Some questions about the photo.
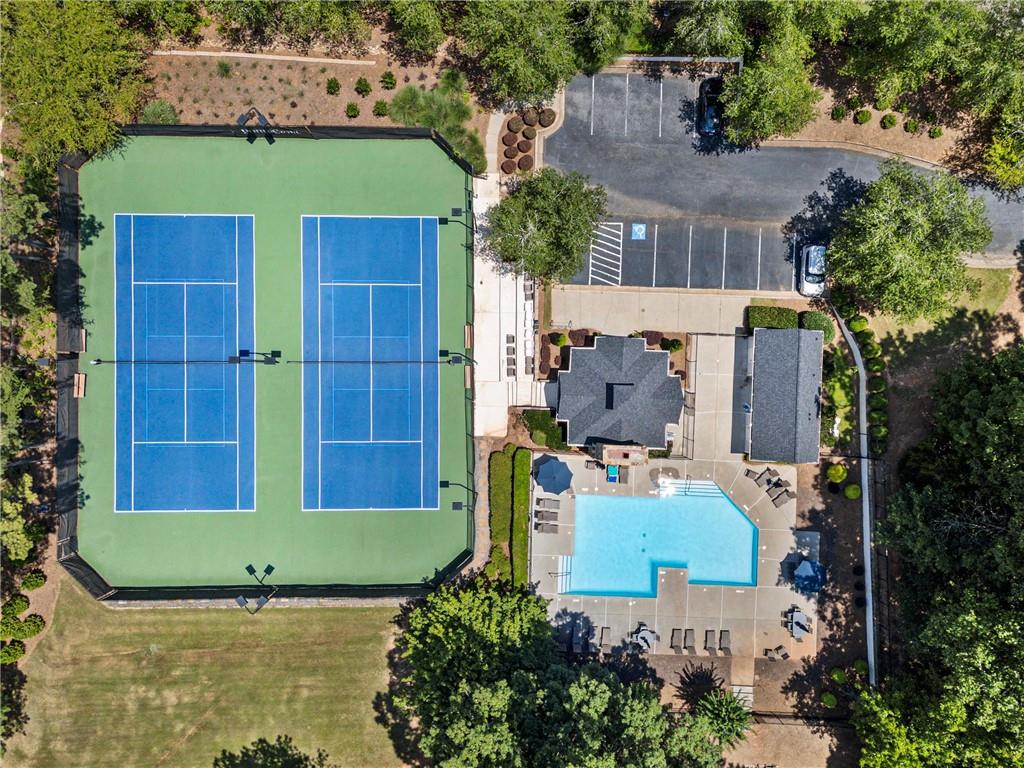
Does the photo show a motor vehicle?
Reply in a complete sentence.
Yes, there is a motor vehicle in the image.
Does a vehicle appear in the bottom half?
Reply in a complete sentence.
No, the scene shows no vehicle in the bottom half.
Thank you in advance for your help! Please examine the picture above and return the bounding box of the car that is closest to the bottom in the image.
[797,243,828,299]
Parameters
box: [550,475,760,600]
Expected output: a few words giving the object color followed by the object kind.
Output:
blue swimming pool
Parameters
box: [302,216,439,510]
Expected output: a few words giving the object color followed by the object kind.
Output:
blue tennis court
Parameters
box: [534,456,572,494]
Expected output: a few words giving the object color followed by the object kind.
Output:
blue umbrella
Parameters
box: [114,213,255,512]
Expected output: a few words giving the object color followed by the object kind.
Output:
blue tennis court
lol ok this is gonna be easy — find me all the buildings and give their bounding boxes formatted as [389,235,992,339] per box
[556,335,686,452]
[744,328,825,466]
